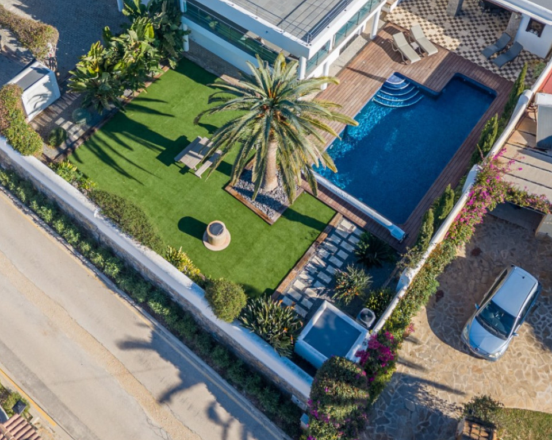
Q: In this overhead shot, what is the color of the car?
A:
blue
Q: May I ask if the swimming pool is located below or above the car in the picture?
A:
above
